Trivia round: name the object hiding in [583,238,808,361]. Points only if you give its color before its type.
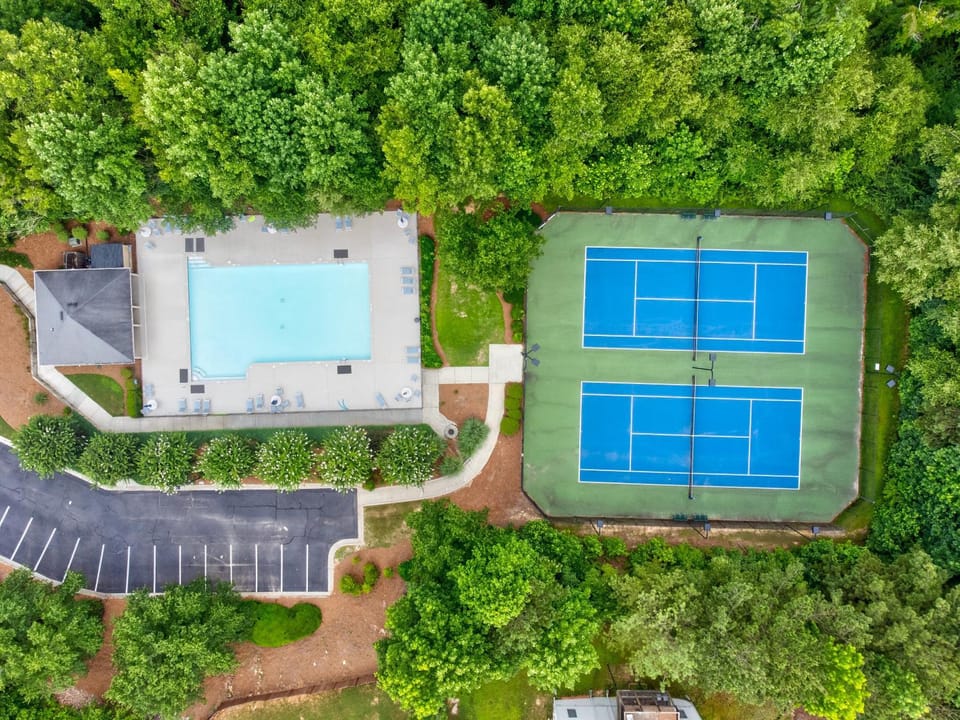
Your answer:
blue tennis court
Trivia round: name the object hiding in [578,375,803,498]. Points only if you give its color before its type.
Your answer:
blue tennis court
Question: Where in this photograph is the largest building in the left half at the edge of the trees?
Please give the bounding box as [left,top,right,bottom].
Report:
[32,266,149,367]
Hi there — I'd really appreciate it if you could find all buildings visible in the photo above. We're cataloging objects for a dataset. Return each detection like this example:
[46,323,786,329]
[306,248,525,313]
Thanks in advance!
[32,266,149,367]
[552,676,701,720]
